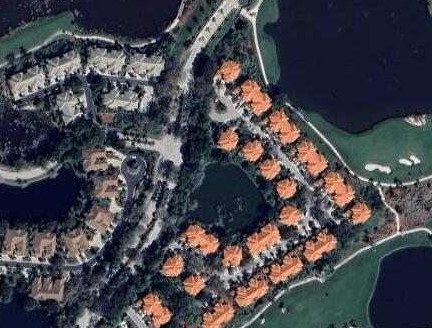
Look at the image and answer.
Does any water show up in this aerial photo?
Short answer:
Yes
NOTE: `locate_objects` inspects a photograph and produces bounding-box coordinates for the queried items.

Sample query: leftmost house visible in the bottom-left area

[2,230,26,257]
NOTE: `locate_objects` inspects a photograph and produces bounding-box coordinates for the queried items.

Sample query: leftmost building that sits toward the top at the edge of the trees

[7,69,45,96]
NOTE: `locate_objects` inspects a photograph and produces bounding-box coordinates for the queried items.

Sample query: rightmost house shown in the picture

[348,203,372,226]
